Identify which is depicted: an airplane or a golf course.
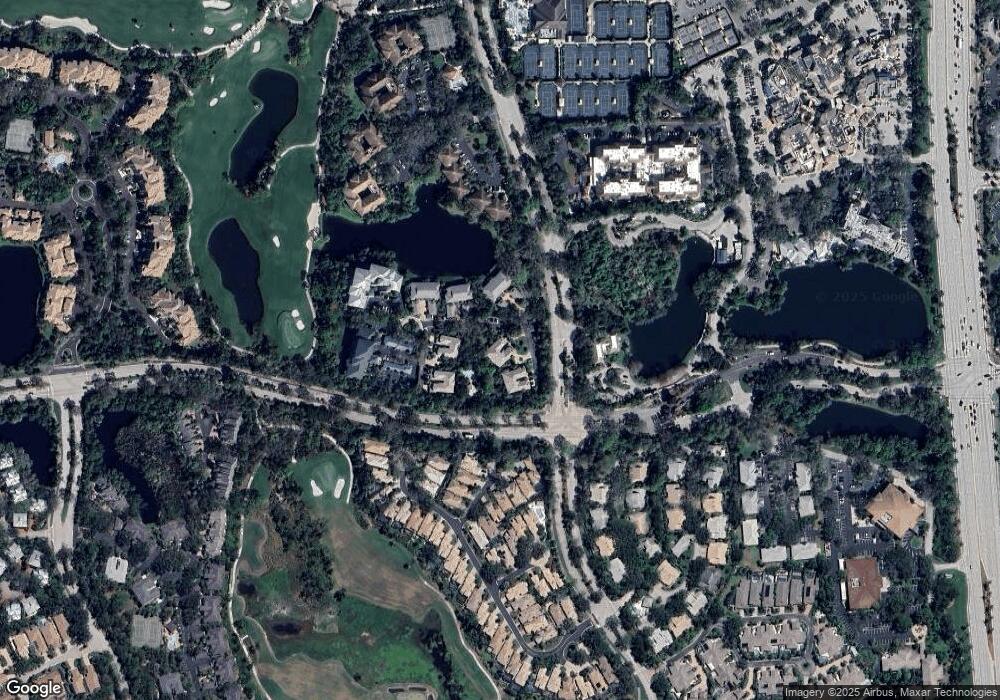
golf course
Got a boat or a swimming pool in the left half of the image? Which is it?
swimming pool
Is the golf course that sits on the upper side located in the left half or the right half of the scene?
left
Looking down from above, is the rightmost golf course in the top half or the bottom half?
bottom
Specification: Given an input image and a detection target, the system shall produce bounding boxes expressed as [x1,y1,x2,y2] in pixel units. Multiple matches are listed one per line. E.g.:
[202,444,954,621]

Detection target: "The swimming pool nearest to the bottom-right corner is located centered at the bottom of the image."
[531,501,545,527]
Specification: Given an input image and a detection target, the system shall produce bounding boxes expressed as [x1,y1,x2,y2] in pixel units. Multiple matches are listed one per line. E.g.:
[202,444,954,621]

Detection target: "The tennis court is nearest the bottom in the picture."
[131,615,162,647]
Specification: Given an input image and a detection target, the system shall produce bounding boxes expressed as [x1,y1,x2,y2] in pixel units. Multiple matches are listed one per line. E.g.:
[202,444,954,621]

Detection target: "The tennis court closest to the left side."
[5,120,33,152]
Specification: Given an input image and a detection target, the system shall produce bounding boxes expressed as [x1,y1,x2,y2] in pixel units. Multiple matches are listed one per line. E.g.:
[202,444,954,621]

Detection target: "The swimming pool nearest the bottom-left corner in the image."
[164,630,180,651]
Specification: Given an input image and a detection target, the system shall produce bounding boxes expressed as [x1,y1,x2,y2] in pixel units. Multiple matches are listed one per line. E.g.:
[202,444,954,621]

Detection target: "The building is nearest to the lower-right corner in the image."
[925,652,950,693]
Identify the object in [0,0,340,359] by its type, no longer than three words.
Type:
golf course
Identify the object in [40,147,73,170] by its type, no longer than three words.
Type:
swimming pool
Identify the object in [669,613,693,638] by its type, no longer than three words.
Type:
house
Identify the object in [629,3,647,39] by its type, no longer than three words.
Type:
tennis court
